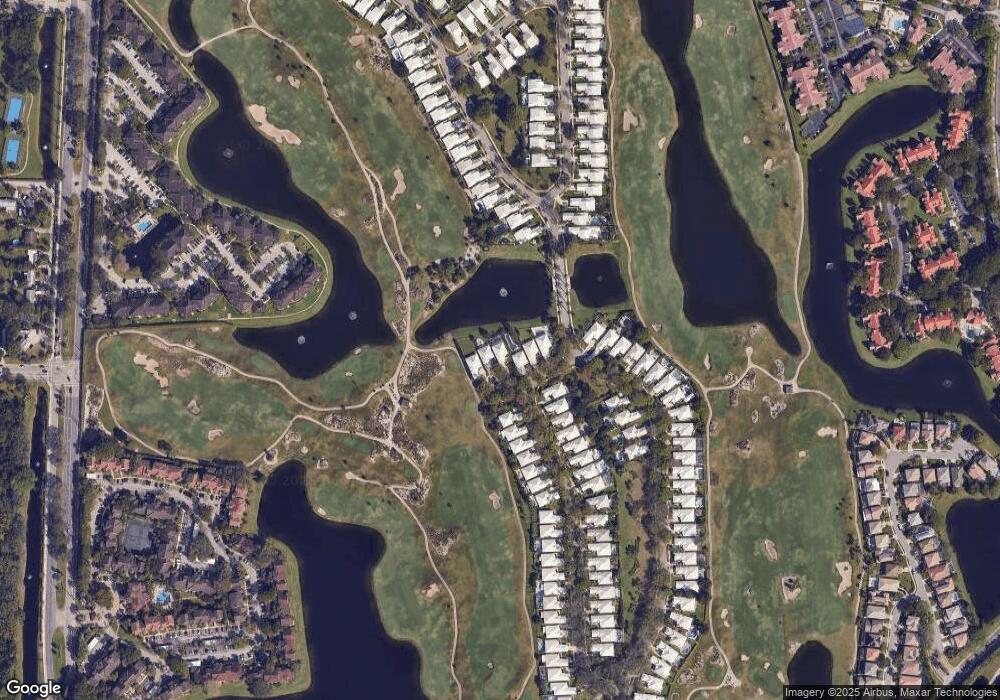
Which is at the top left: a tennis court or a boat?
tennis court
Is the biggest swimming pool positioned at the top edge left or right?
right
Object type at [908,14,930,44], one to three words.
building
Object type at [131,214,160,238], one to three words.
swimming pool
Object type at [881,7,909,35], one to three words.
swimming pool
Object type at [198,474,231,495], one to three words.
house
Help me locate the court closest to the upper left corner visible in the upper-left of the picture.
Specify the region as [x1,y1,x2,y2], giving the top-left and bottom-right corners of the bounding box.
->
[5,94,23,124]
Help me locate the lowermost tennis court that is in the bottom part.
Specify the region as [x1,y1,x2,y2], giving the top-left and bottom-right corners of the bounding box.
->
[127,519,151,549]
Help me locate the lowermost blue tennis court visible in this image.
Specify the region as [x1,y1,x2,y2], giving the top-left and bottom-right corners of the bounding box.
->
[3,136,22,168]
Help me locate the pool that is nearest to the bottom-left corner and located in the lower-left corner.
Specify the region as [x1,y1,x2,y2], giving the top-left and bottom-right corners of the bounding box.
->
[153,586,172,606]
